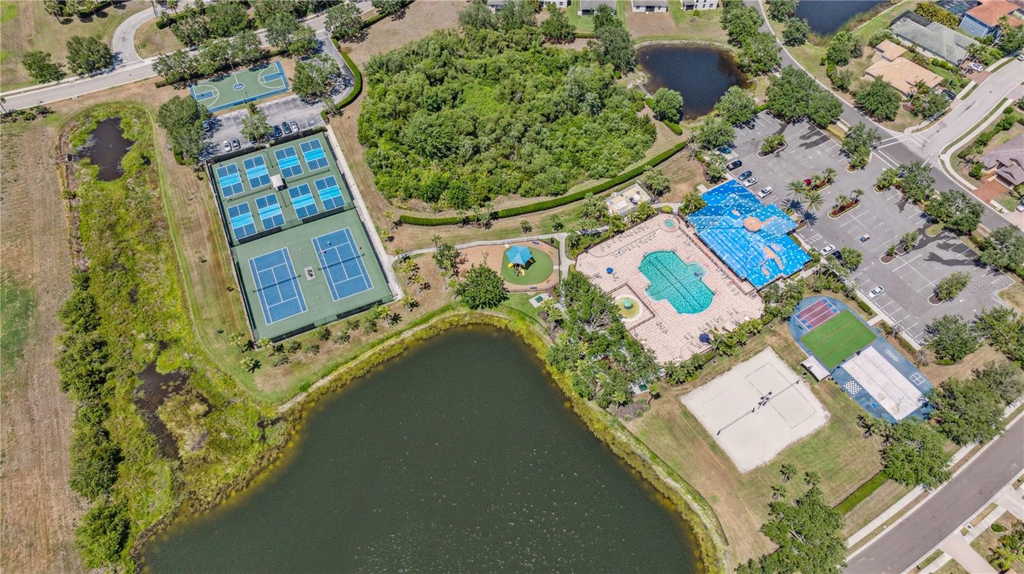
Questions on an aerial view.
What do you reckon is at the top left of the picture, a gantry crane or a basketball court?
basketball court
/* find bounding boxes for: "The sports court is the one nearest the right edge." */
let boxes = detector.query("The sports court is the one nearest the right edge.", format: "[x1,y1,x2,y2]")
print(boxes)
[787,295,933,424]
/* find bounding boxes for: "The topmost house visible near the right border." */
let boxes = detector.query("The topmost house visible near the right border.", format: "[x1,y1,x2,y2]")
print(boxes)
[955,0,1022,39]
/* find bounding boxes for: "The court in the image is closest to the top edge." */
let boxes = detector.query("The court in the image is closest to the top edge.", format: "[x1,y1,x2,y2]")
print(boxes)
[192,60,291,113]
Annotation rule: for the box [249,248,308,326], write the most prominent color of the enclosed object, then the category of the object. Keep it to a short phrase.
blue tennis court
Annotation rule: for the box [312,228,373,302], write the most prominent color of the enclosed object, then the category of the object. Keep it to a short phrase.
blue tennis court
